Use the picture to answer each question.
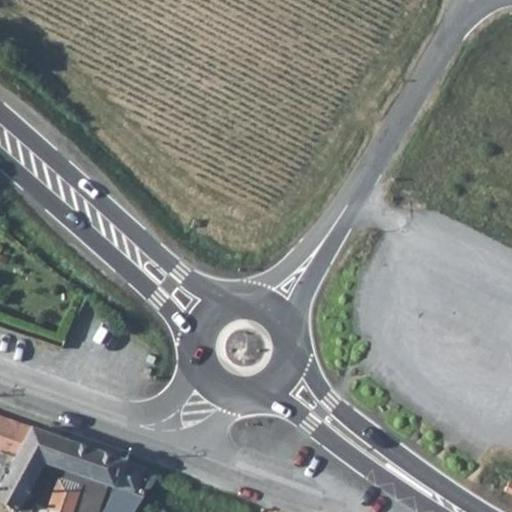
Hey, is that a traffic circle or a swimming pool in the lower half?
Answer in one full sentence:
The one visible in the lower half is a traffic circle.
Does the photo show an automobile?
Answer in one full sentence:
Yes, you can see an automobile in this photo.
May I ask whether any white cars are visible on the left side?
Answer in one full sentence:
Yes, a white car shows up on the left side.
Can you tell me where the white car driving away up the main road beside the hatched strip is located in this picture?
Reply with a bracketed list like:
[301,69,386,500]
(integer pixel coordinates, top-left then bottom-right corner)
[78,178,99,199]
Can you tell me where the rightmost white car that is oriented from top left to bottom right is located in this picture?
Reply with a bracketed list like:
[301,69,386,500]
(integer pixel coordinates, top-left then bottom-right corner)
[271,400,294,418]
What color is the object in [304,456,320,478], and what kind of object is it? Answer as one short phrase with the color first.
white car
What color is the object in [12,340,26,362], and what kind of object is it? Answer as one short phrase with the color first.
white vehicle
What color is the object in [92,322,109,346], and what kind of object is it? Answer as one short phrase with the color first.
white vehicle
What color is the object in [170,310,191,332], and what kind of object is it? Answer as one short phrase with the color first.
white car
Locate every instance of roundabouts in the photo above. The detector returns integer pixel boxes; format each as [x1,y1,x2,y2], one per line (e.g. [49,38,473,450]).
[178,281,311,414]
